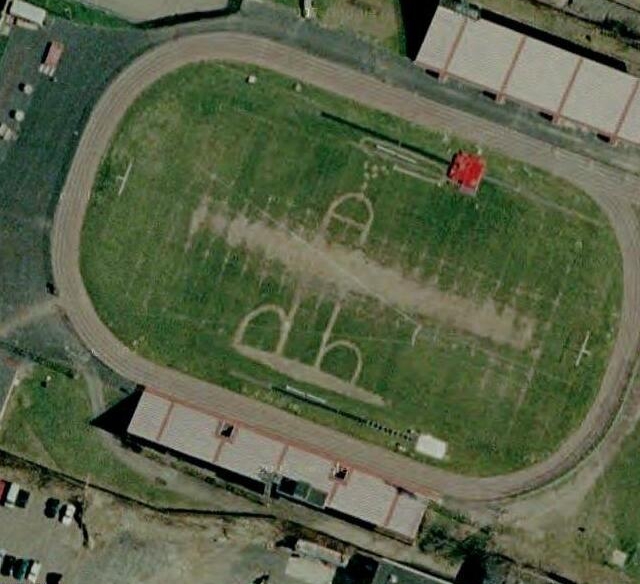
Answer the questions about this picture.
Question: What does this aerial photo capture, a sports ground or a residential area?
sports ground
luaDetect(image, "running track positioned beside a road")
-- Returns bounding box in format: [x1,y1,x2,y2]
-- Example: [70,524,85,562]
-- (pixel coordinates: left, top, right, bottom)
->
[52,33,640,500]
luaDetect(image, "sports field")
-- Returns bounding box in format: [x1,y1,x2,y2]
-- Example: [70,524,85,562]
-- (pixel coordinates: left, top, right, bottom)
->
[81,61,624,475]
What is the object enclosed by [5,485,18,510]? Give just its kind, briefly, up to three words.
vehicle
